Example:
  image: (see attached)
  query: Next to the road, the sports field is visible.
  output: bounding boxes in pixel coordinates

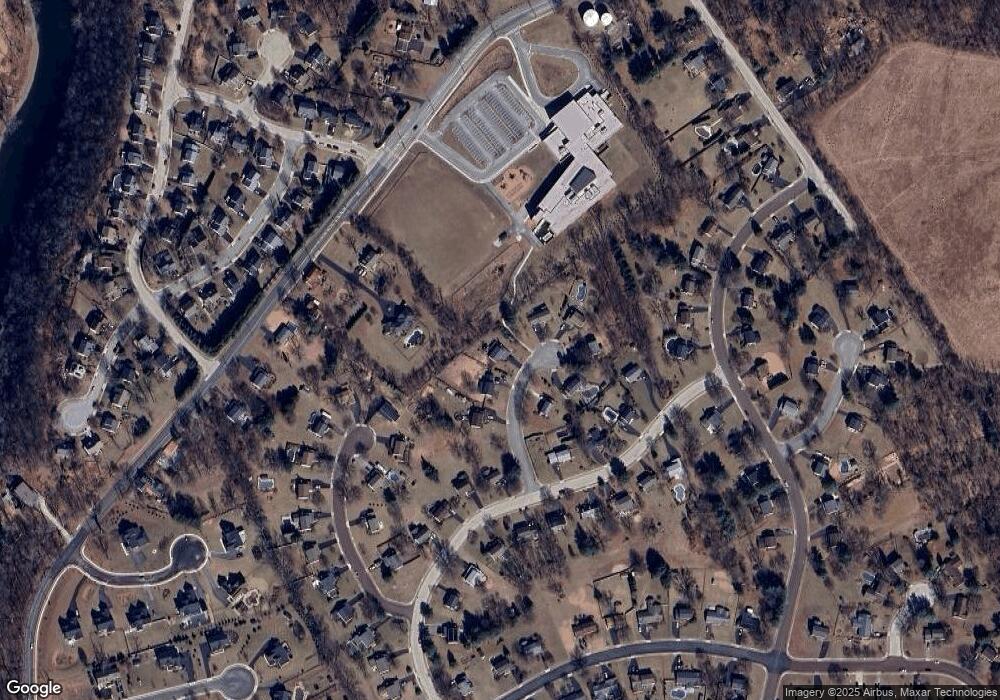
[372,146,512,289]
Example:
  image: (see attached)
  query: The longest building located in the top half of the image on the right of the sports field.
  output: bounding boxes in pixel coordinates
[533,92,623,245]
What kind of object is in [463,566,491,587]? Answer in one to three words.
house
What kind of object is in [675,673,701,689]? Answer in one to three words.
house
